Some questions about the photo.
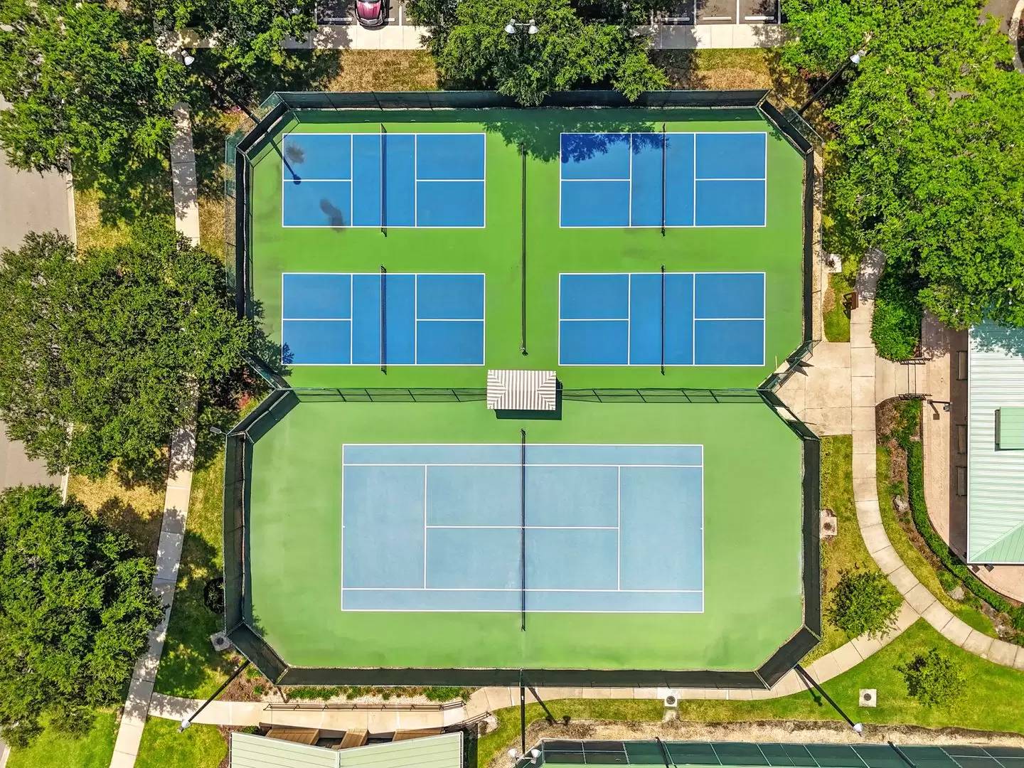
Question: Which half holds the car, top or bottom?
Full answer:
The top half of the photo is where the car is.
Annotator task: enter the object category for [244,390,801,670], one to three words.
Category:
tennis court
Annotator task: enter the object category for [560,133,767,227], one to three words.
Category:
sports court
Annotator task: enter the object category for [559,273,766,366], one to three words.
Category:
sports court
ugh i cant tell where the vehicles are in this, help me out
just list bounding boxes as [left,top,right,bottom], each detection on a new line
[354,0,385,28]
